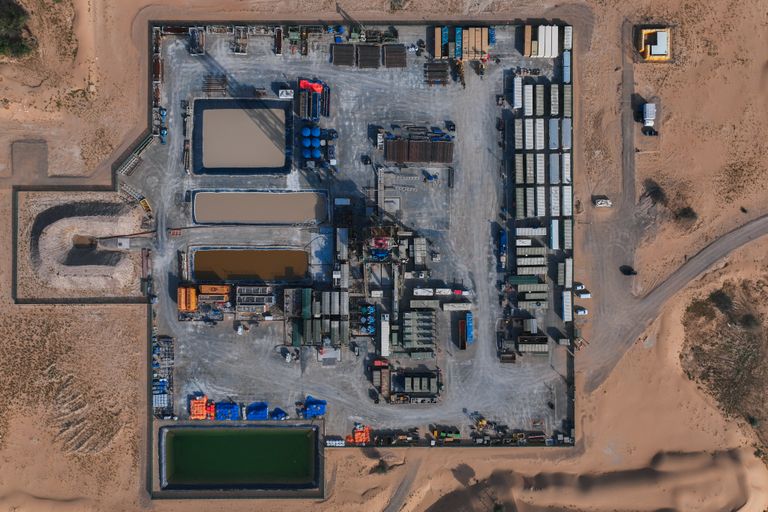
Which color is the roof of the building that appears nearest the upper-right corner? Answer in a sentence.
The roof over the building that appears nearest the upper-right corner appears white.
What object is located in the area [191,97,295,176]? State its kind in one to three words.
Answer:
pond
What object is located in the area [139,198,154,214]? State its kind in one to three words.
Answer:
vehicle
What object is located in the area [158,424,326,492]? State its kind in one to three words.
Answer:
pond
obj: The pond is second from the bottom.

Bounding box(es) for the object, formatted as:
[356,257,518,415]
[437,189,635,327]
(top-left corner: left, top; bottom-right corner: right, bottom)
[187,245,313,286]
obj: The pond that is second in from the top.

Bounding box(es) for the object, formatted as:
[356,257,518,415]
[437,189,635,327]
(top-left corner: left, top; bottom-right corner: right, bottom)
[190,188,330,227]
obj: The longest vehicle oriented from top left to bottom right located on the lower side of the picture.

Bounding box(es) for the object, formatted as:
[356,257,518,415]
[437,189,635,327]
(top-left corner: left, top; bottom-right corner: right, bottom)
[466,403,488,429]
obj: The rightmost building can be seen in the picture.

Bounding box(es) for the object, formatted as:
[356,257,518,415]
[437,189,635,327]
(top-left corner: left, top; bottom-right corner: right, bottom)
[648,31,670,58]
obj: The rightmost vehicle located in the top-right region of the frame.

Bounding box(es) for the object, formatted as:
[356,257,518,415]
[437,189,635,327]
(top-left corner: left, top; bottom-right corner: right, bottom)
[641,103,657,135]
